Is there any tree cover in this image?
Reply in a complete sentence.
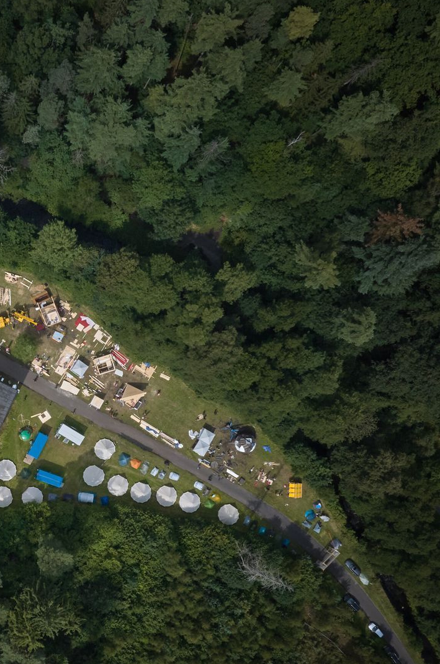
Yes, tree cover shows up in the scene.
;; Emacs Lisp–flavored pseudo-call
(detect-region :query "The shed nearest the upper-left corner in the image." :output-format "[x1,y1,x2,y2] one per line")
[36,296,62,327]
